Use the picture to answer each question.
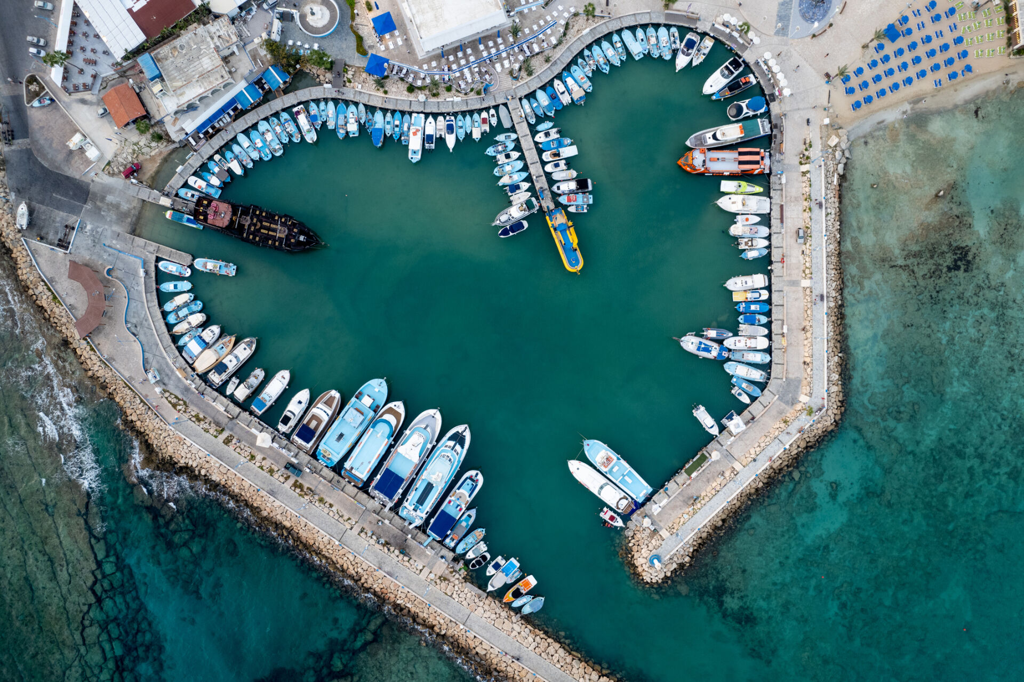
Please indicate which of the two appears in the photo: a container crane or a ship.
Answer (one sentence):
The image shows a ship.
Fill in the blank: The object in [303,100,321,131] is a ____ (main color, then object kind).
blue boat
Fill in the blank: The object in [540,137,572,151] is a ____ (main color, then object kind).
blue boat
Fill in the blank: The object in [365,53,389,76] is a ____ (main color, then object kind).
blue tent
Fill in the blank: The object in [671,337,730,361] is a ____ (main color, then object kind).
white boat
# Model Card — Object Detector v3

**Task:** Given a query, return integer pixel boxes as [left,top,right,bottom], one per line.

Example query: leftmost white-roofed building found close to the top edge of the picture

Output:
[82,0,147,65]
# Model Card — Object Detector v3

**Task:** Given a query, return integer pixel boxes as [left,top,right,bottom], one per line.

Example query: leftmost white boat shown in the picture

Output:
[17,200,30,228]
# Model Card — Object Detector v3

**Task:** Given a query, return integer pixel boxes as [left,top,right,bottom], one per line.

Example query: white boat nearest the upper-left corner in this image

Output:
[66,133,86,151]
